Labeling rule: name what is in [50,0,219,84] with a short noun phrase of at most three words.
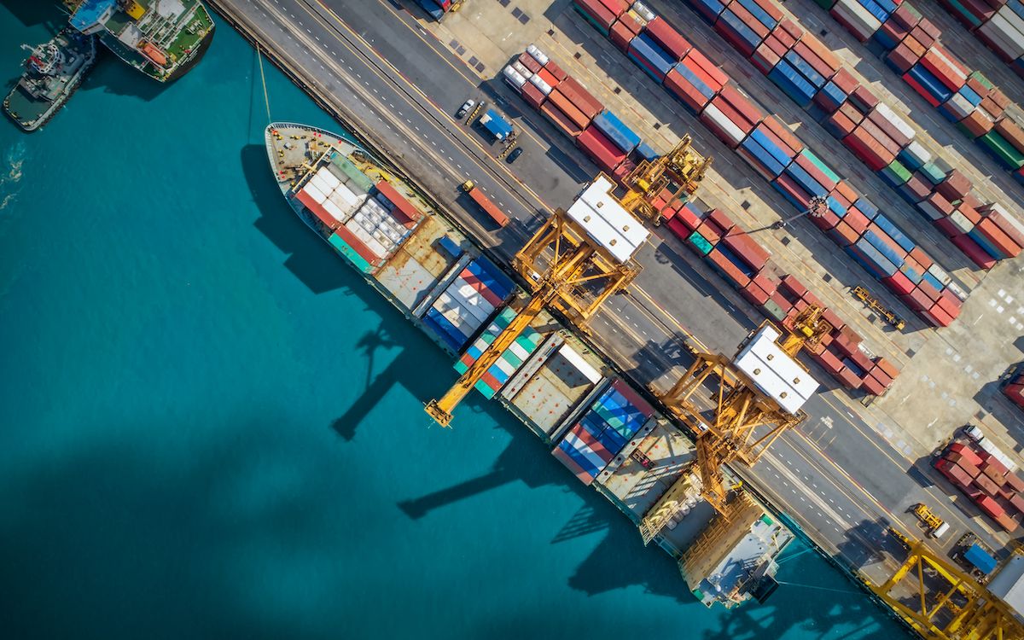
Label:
ship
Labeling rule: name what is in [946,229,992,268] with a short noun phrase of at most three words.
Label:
shipping container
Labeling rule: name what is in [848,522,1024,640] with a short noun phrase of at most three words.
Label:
container crane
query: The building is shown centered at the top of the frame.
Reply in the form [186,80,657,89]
[476,107,507,138]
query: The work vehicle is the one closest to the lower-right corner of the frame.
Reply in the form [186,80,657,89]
[909,502,951,539]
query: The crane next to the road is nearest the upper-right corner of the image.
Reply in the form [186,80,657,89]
[621,130,718,233]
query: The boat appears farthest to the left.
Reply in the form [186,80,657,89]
[2,28,102,131]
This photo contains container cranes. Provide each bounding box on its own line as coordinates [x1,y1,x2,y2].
[621,130,718,233]
[420,155,671,432]
[644,305,838,527]
[848,522,1024,640]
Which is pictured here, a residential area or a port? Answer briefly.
port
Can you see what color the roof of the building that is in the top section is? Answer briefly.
blue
